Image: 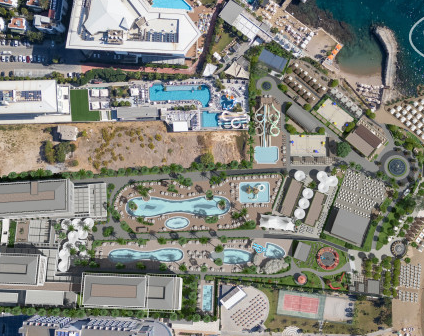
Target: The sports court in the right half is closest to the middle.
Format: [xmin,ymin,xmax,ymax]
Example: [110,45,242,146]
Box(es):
[290,135,326,156]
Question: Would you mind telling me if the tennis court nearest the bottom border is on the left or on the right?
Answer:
right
